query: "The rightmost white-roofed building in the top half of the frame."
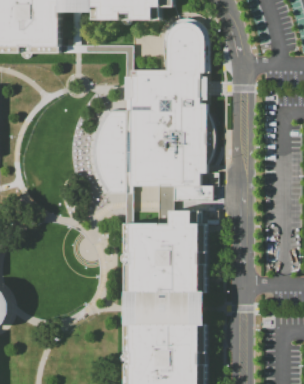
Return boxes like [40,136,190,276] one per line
[94,17,226,220]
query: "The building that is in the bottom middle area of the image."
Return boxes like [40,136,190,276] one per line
[119,211,208,384]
